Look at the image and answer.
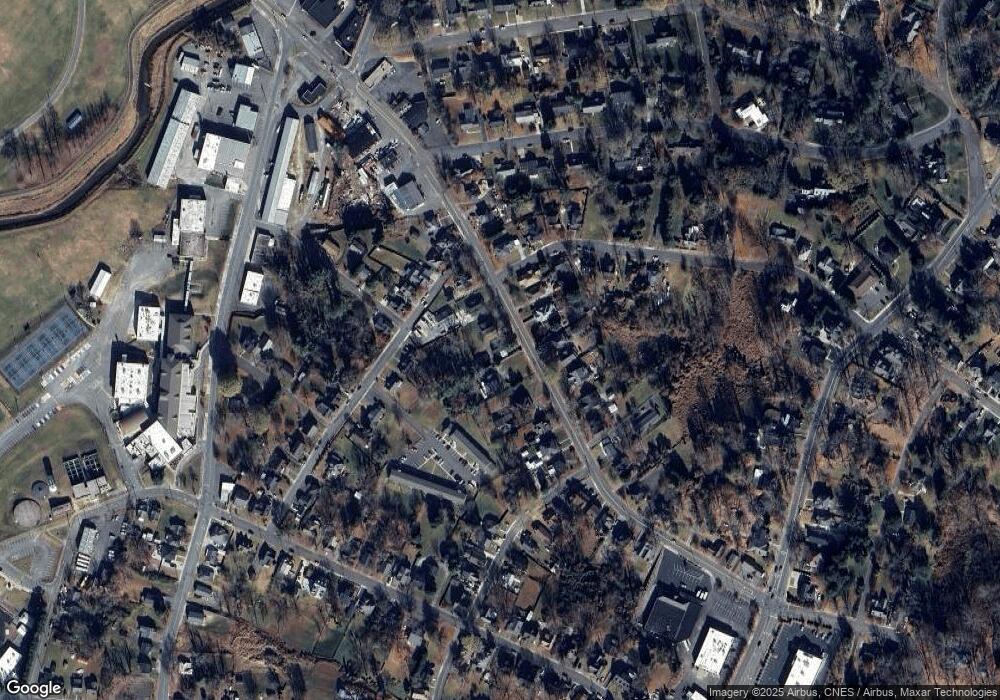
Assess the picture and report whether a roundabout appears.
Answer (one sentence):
No, no roundabout is visible in the view.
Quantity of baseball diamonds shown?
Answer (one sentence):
No baseball diamonds are visible.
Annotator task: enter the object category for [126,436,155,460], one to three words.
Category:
building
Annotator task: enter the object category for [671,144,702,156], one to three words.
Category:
house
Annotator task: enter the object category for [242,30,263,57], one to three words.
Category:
building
